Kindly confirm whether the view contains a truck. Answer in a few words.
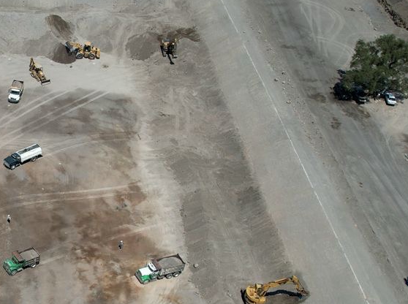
Yes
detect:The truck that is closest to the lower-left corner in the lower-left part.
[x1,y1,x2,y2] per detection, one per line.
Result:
[1,242,42,274]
